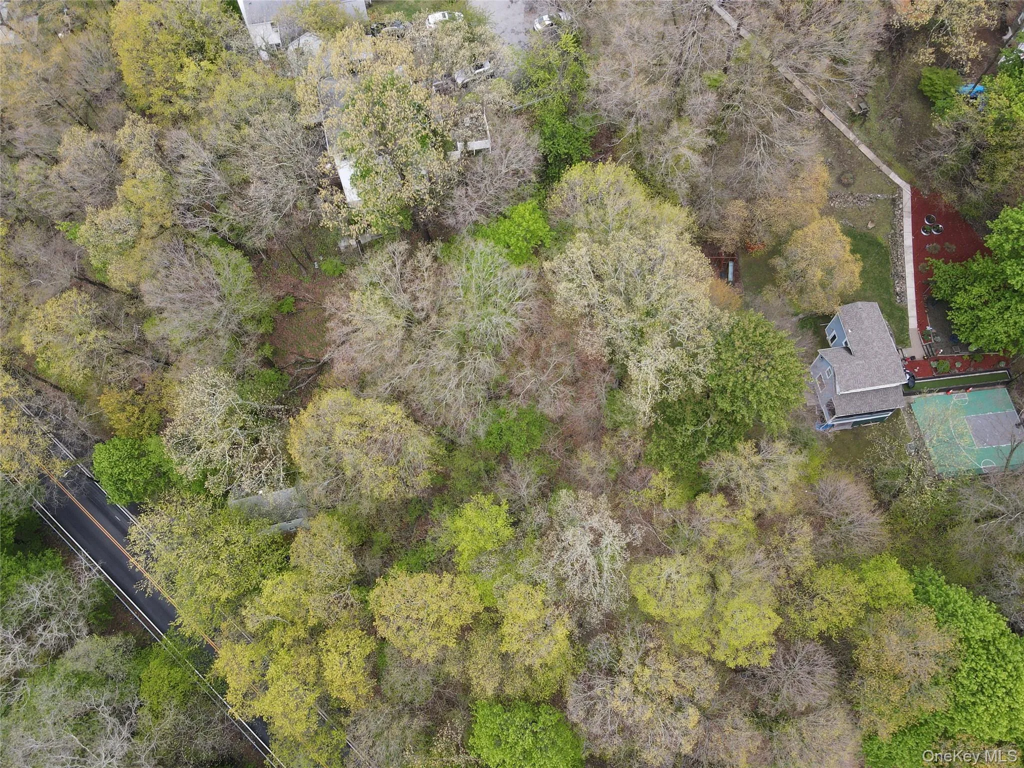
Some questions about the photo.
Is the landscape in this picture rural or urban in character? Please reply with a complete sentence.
From above, the setting appears rural.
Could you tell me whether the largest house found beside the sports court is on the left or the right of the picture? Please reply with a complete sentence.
It is on the right.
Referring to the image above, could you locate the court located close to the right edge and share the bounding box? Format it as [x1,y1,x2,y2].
[911,388,1024,475]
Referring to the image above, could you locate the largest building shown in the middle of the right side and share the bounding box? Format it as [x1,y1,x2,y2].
[808,302,908,431]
